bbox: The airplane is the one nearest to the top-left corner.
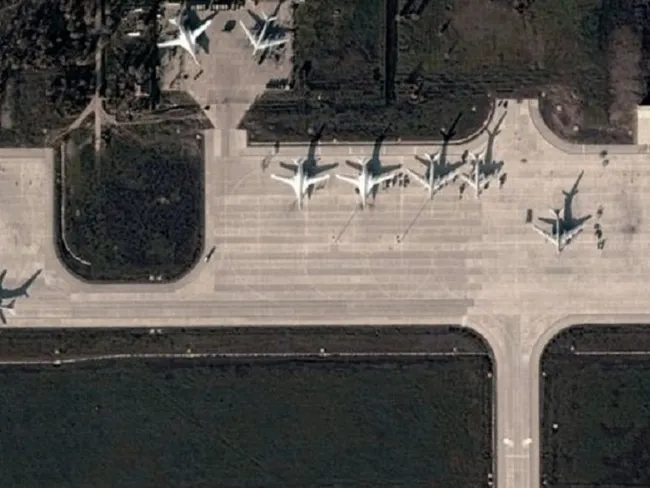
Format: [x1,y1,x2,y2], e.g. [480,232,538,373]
[157,18,208,67]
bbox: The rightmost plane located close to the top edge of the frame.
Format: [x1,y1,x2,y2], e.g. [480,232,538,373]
[241,10,289,56]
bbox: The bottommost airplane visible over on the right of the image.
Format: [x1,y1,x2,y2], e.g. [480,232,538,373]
[532,206,584,256]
